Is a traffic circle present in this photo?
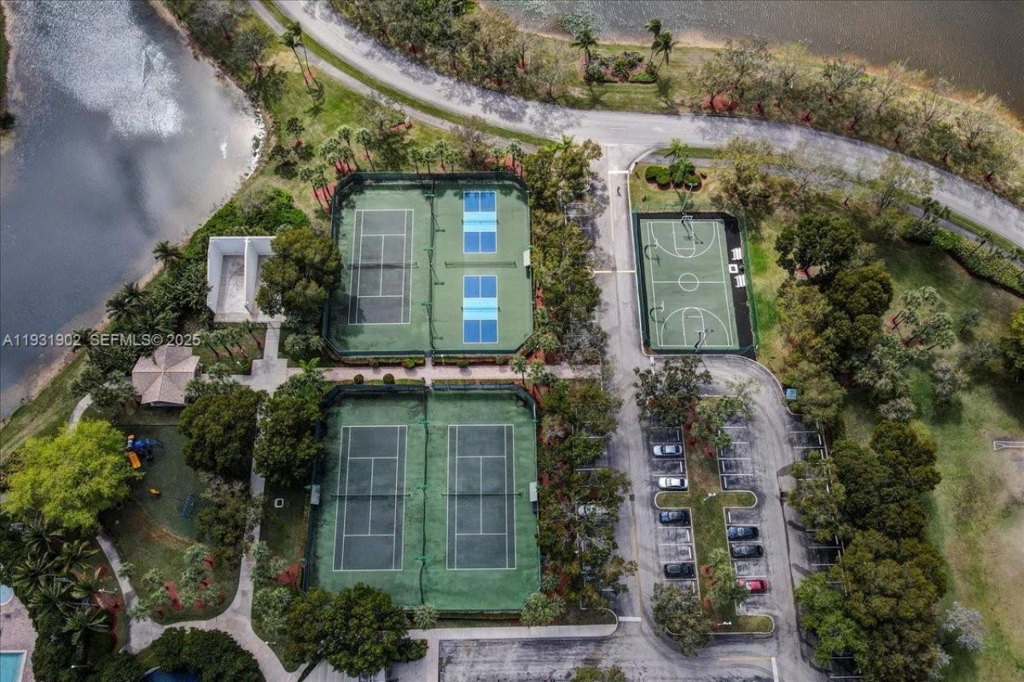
No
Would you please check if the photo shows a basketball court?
Yes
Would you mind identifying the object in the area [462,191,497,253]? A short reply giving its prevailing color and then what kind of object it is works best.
blue sports court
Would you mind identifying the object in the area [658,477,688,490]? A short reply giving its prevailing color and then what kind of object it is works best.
white vehicle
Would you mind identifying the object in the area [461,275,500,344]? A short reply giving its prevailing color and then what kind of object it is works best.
blue sports court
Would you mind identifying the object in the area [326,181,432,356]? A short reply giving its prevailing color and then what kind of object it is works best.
gray tennis court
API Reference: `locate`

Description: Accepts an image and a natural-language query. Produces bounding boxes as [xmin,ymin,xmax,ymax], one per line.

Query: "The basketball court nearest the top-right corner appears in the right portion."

[637,212,757,362]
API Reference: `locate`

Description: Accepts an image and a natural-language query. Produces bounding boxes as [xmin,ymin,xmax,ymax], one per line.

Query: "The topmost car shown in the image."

[653,444,682,457]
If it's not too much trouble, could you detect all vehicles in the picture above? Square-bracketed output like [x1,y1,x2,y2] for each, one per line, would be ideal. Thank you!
[728,525,758,539]
[732,544,764,558]
[653,444,682,457]
[660,510,690,524]
[578,503,607,517]
[663,563,695,577]
[658,477,688,490]
[738,579,769,593]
